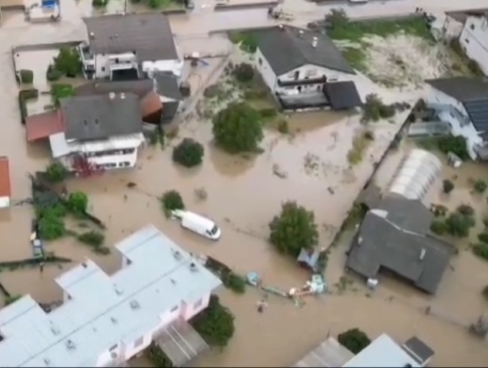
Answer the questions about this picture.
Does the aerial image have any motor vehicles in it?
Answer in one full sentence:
Yes, a motor vehicle can be made out from above.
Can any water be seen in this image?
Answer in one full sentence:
Yes, the picture does contain water.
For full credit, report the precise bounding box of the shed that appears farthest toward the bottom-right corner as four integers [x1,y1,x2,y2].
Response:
[402,337,434,368]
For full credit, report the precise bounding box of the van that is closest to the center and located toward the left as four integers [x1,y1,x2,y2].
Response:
[169,204,222,242]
